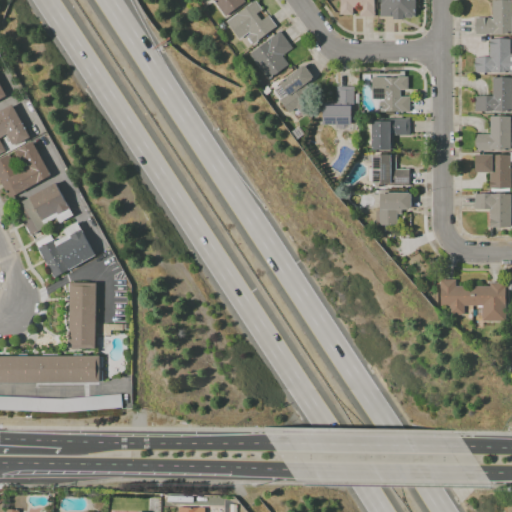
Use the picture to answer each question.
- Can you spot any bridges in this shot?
Yes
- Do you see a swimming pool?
Yes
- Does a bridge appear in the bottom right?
Yes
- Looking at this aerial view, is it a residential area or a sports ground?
residential area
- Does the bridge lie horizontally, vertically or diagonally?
horizontally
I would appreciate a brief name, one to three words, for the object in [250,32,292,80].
house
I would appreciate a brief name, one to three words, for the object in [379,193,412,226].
house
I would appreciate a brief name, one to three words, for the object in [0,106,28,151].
building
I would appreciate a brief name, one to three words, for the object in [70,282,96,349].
building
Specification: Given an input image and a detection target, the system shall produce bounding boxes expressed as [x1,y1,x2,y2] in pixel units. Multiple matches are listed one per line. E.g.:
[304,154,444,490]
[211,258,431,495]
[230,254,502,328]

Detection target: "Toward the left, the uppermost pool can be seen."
[102,334,126,378]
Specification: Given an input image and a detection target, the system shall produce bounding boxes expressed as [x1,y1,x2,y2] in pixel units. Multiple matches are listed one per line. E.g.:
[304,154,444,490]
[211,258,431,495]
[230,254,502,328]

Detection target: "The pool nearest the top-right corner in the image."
[362,74,380,112]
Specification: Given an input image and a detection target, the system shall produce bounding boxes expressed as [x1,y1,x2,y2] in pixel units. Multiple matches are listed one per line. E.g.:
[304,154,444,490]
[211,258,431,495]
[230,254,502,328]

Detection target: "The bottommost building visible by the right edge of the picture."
[440,280,506,320]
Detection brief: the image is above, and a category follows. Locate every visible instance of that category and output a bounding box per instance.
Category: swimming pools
[58,496,98,512]
[102,334,126,378]
[346,162,372,186]
[362,74,380,112]
[328,136,356,178]
[26,494,50,512]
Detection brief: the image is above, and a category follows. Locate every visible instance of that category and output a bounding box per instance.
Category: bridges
[262,428,494,486]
